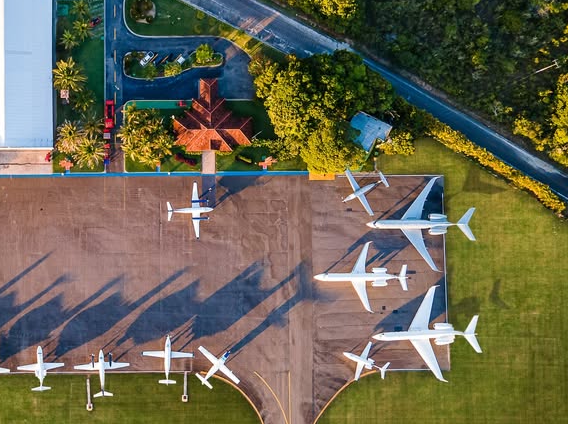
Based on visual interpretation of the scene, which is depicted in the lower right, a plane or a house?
plane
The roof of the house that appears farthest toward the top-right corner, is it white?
No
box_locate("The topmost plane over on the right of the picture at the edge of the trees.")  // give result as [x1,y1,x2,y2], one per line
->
[340,169,390,216]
